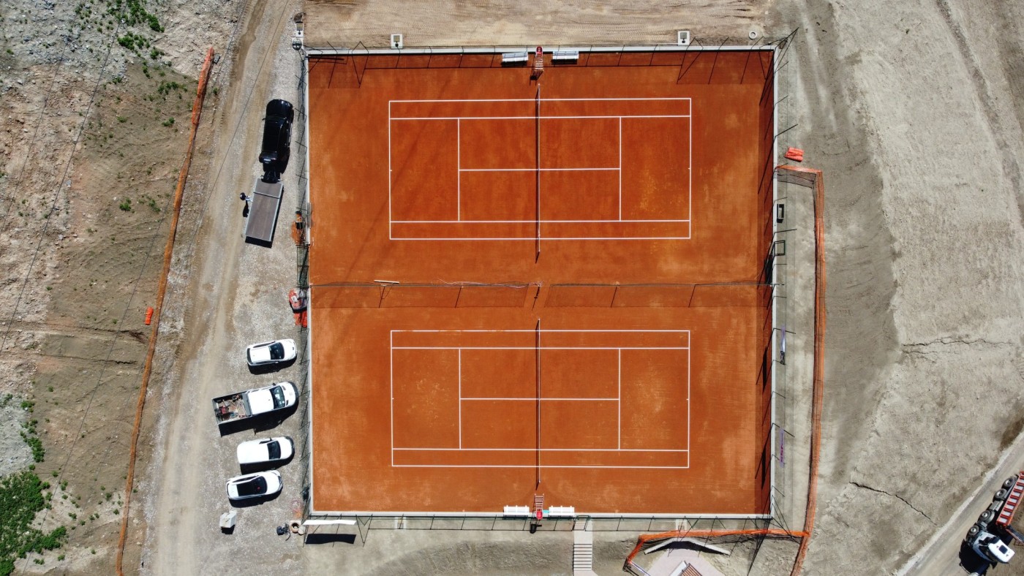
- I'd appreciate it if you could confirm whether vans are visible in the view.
Yes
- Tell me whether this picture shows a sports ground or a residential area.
sports ground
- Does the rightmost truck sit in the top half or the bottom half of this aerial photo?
bottom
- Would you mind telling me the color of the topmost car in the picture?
black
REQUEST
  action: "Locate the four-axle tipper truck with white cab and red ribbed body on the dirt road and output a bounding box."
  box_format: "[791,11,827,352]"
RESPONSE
[964,475,1024,568]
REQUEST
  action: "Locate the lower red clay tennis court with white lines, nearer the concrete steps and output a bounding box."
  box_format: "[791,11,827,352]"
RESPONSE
[313,284,771,514]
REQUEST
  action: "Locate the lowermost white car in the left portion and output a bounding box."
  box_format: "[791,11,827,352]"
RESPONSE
[227,469,284,500]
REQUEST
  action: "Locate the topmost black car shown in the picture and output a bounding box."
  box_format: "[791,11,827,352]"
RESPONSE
[258,100,294,164]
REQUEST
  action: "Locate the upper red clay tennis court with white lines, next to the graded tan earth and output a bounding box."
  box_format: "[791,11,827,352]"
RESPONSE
[310,50,774,285]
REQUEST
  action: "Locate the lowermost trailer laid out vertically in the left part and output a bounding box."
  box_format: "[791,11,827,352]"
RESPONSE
[246,169,282,241]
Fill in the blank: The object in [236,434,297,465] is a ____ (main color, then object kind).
white van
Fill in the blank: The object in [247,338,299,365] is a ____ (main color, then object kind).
white car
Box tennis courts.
[310,50,774,285]
[313,284,771,514]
